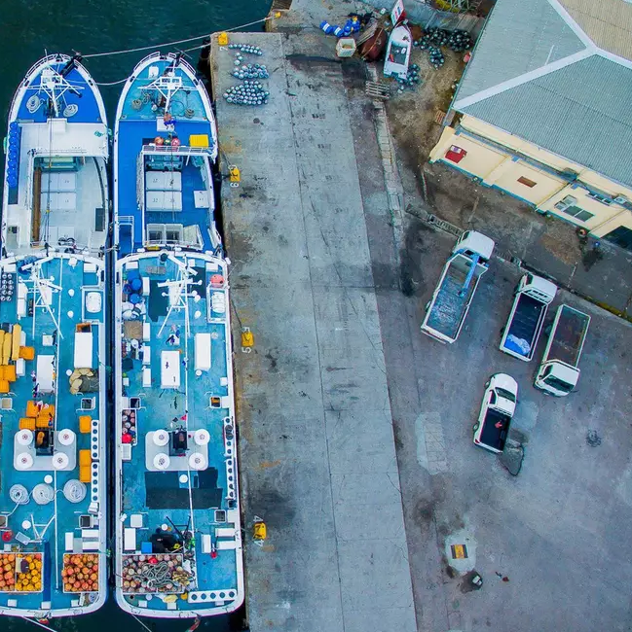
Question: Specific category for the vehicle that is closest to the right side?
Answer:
truck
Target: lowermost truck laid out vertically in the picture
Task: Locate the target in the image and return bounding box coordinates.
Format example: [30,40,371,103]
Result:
[469,373,518,460]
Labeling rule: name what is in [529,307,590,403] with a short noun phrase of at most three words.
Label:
truck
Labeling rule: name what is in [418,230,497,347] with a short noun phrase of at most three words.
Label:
truck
